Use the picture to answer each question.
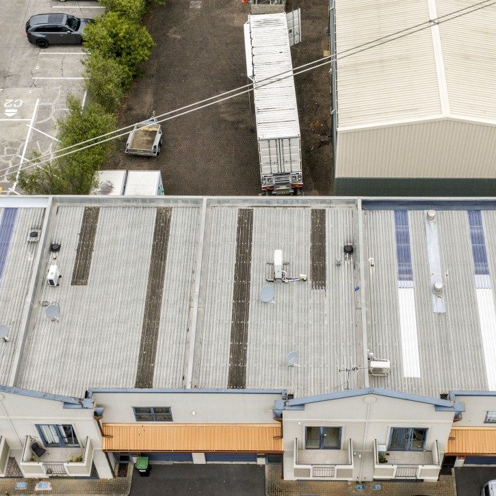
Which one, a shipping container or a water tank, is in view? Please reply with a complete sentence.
The image shows a shipping container.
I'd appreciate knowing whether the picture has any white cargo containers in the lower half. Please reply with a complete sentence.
No, the scene shows no white cargo container in the lower half.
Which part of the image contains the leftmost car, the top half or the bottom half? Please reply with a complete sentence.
You can find the leftmost car in the top half.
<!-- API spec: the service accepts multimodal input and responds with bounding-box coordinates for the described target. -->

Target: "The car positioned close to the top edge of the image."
[26,11,95,43]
